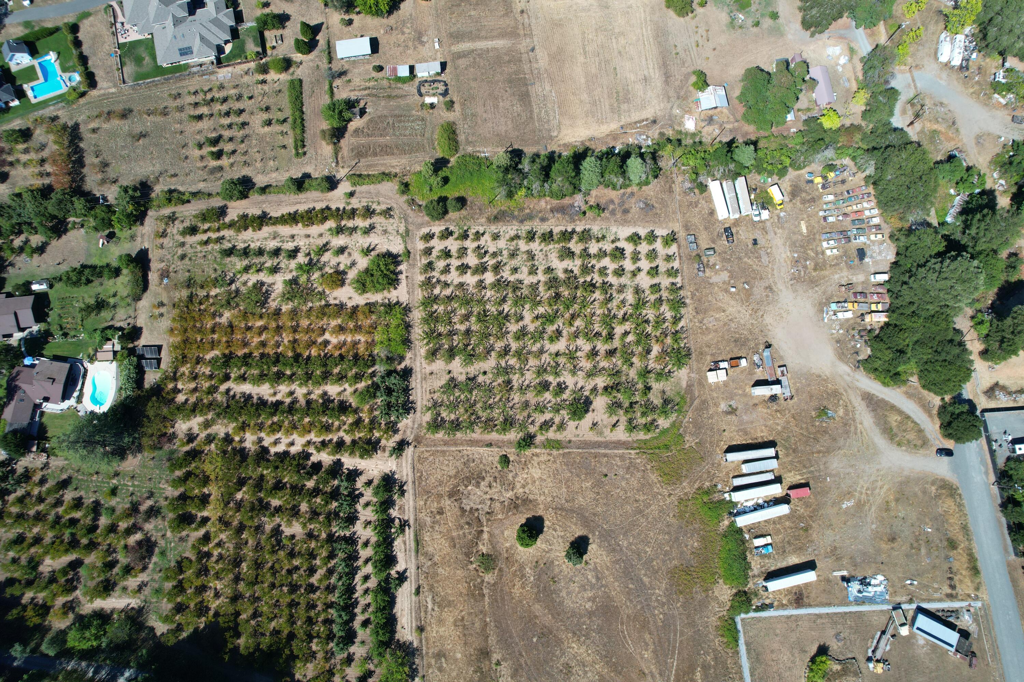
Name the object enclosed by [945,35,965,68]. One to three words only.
camper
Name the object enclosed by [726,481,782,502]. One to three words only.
trailer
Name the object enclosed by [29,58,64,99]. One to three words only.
swimming pool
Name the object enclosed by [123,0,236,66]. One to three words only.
house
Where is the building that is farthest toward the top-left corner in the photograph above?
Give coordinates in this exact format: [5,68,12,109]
[1,38,36,66]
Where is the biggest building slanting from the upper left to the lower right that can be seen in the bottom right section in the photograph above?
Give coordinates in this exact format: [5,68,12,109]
[906,609,960,652]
